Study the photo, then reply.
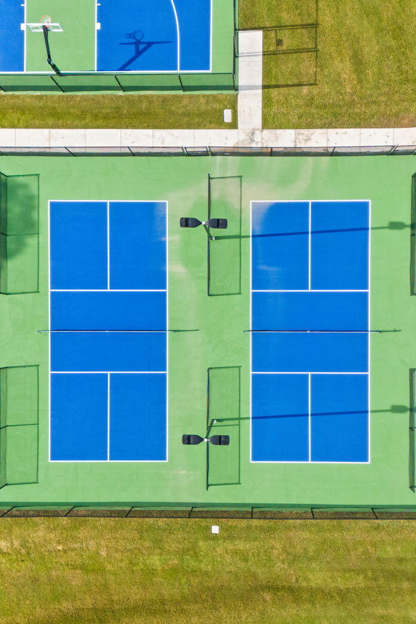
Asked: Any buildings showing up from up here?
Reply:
No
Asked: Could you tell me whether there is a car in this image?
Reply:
No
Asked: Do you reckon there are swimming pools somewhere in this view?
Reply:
No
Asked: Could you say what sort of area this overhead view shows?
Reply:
sports ground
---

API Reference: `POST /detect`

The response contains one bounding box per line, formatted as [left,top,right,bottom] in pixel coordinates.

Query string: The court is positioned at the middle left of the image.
[48,200,167,463]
